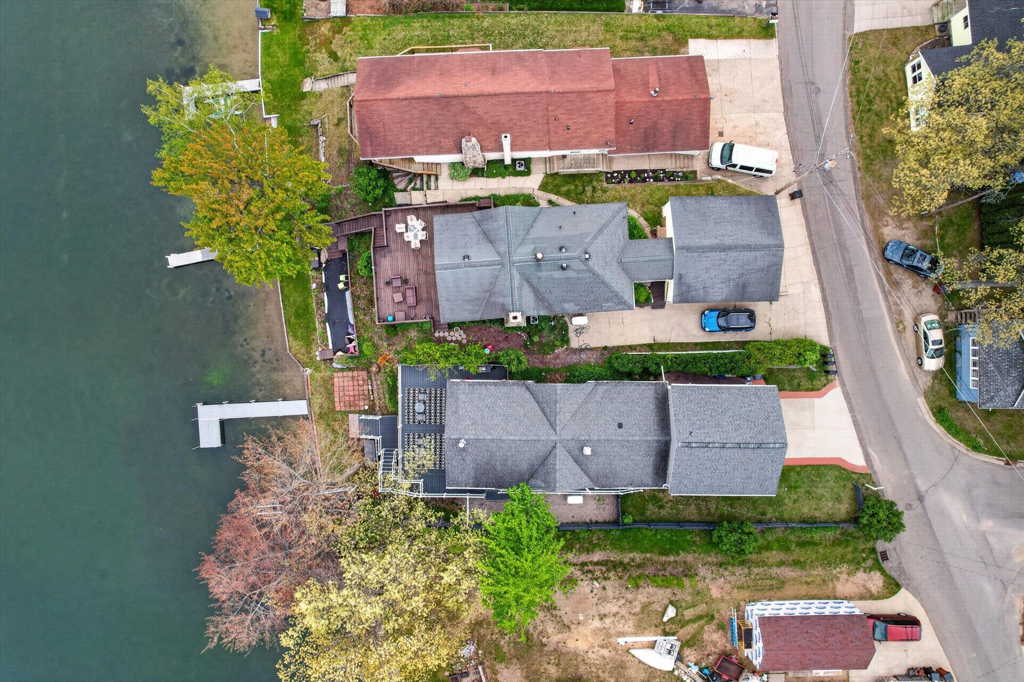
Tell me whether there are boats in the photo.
Yes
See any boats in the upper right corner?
No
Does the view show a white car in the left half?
No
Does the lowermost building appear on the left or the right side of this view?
right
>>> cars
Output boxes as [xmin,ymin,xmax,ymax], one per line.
[912,312,947,373]
[866,613,927,644]
[707,139,781,177]
[700,306,756,334]
[878,240,945,279]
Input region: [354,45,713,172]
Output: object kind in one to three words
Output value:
house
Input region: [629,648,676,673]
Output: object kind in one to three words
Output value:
boat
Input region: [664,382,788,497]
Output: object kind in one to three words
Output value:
building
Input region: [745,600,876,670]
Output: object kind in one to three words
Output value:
building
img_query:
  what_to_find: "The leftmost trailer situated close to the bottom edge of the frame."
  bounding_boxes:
[715,653,750,682]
